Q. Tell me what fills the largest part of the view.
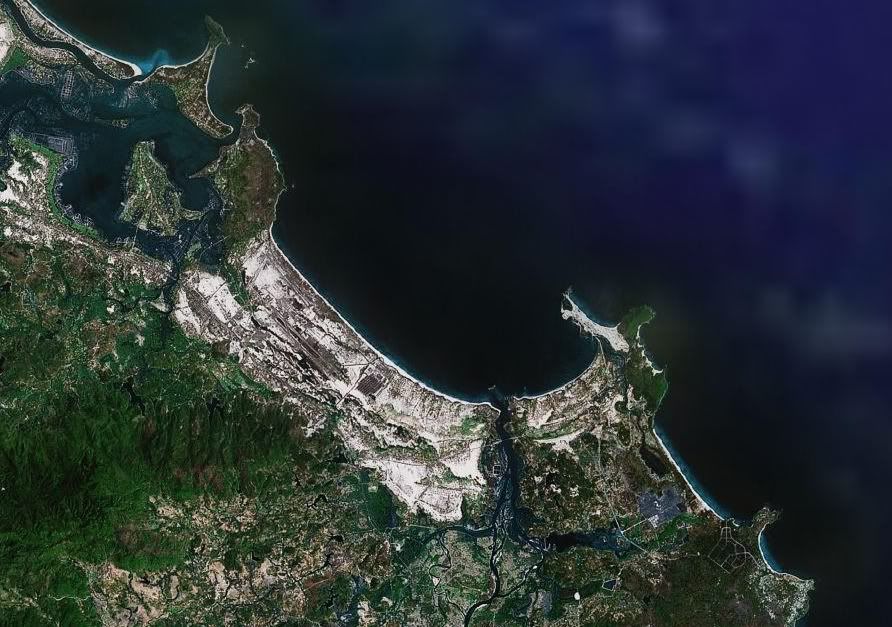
water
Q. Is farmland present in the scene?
Yes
